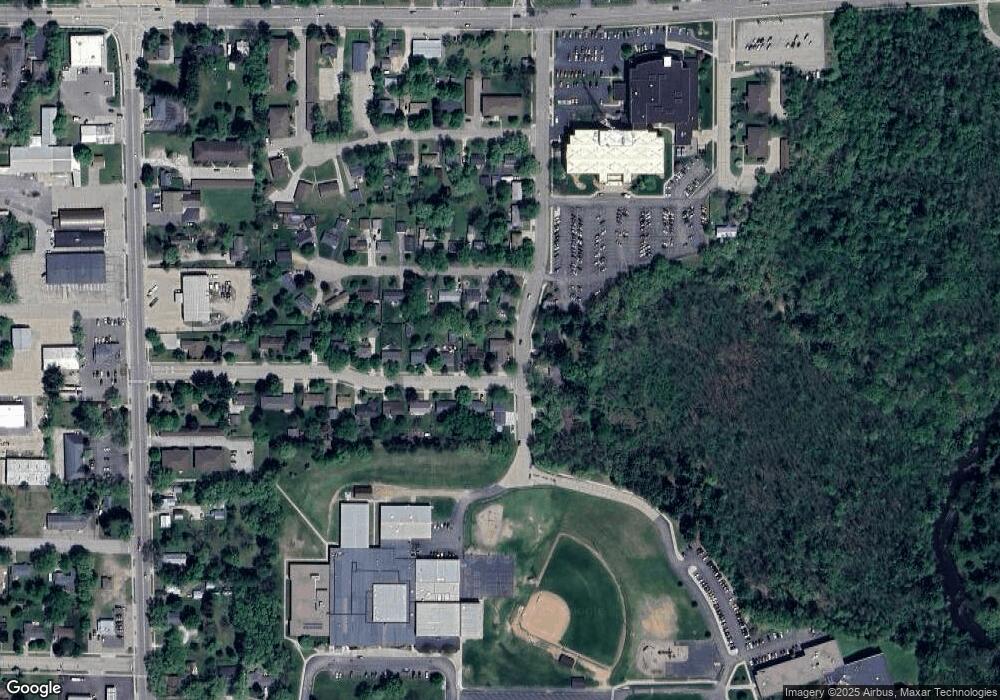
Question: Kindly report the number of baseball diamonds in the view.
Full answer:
Just 1 baseball diamond appears in this view.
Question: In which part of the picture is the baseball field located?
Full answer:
The baseball field is in the bottom part of the image.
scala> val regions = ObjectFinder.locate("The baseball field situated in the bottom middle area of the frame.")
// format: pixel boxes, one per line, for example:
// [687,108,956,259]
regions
[511,534,626,682]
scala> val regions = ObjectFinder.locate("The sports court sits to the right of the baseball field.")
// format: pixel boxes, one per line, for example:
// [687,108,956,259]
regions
[666,639,720,676]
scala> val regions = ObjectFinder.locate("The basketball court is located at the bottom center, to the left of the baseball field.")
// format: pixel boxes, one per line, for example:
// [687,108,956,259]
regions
[461,556,514,597]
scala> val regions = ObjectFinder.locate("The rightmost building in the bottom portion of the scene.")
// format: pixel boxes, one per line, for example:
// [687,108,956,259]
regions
[755,640,844,700]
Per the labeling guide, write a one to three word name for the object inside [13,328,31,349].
shed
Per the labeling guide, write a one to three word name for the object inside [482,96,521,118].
building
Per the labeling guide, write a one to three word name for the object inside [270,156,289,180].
building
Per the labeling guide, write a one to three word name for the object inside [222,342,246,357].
house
